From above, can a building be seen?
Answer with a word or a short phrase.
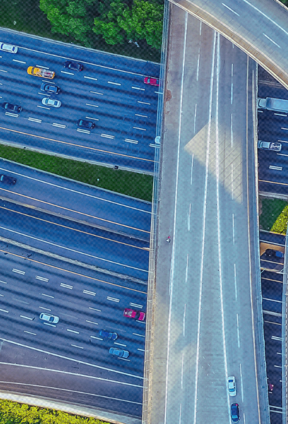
No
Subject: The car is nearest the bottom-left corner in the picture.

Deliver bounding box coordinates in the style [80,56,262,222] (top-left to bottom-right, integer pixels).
[40,312,61,324]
